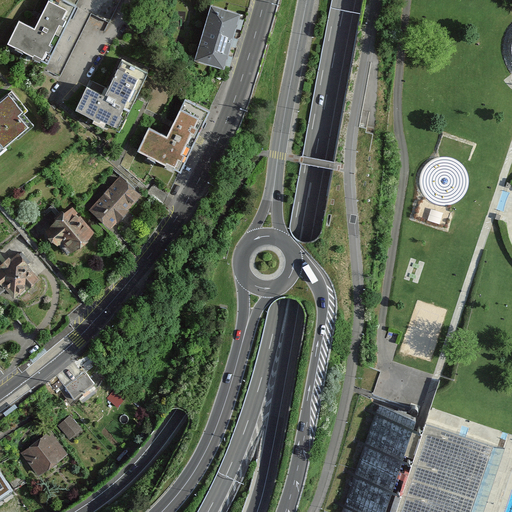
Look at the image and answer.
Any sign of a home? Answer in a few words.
Yes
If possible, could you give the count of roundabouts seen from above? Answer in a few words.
one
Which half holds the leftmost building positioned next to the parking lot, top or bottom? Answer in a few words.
top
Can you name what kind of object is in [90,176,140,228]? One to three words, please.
house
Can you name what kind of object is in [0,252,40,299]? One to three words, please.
house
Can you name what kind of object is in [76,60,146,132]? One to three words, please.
building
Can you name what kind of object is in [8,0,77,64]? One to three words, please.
building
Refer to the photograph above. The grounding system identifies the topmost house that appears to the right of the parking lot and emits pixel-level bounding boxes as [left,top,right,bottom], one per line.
[196,6,244,69]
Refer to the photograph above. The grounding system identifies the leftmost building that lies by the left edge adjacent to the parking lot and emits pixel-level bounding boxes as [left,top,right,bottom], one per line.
[0,91,36,154]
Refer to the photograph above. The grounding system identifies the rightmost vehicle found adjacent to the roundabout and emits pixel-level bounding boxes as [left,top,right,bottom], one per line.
[303,263,318,284]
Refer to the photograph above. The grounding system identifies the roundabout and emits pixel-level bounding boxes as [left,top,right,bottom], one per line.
[232,227,303,298]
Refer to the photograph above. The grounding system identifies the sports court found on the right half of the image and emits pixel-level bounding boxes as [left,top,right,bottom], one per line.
[400,300,446,361]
